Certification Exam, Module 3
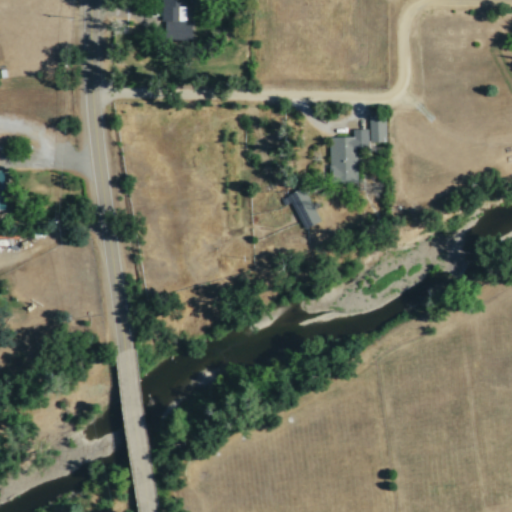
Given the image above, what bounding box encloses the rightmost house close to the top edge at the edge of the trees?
[164,0,194,39]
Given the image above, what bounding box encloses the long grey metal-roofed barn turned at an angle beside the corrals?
[284,188,322,229]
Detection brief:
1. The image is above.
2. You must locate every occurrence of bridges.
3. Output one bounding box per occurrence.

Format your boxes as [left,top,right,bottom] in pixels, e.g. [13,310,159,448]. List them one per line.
[116,350,157,512]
